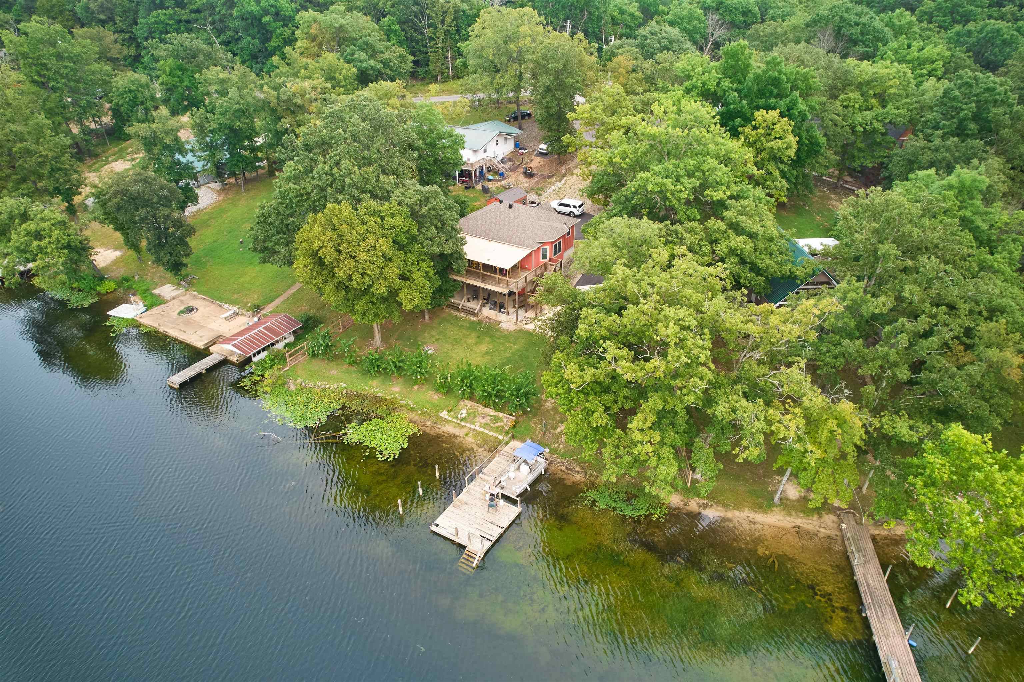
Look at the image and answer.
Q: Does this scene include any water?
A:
Yes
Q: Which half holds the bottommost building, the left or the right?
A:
left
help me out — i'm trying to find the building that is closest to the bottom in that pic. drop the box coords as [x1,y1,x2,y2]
[211,313,302,367]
